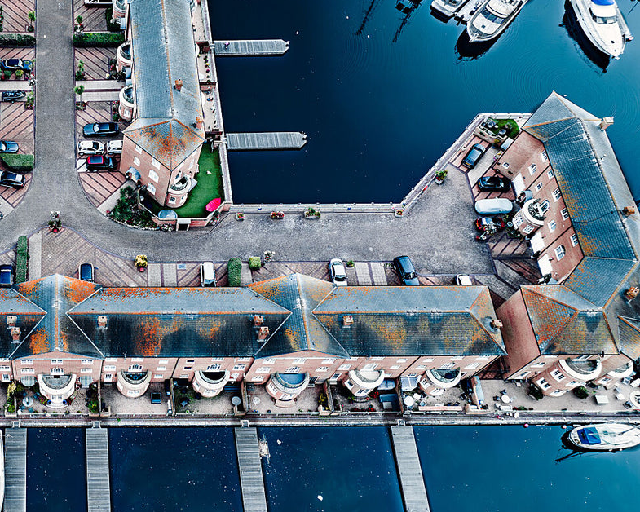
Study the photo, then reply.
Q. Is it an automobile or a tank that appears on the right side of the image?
automobile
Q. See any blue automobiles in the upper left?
Yes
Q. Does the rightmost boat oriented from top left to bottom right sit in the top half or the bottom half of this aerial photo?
top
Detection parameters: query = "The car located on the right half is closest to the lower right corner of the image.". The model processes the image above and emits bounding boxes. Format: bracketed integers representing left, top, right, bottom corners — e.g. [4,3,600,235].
[452,273,474,285]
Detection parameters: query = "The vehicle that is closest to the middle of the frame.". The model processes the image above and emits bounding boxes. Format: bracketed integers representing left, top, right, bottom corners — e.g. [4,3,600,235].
[327,259,349,286]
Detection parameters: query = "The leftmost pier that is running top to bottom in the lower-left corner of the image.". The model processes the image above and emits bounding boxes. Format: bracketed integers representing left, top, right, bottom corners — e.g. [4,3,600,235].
[2,414,26,512]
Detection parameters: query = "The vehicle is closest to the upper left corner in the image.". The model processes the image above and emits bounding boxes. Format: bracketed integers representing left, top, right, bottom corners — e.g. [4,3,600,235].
[3,58,32,72]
